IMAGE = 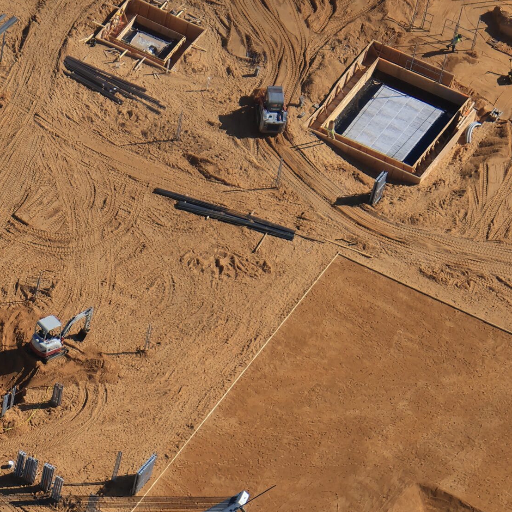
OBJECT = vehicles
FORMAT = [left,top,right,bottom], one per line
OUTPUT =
[25,304,96,372]
[255,80,291,133]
